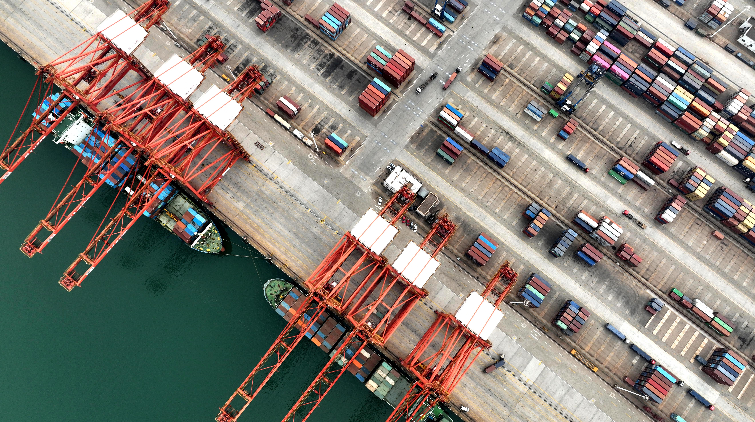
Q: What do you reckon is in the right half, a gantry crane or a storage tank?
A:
gantry crane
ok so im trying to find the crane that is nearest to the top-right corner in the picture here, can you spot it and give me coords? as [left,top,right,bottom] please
[555,60,607,115]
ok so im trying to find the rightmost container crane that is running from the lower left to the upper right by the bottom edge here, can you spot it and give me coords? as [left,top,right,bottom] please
[383,263,521,422]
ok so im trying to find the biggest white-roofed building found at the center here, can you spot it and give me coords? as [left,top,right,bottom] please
[384,167,420,194]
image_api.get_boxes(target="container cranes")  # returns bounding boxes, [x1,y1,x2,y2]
[19,33,226,257]
[278,215,458,422]
[60,65,265,292]
[0,0,172,184]
[383,263,521,422]
[215,184,417,422]
[555,60,607,115]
